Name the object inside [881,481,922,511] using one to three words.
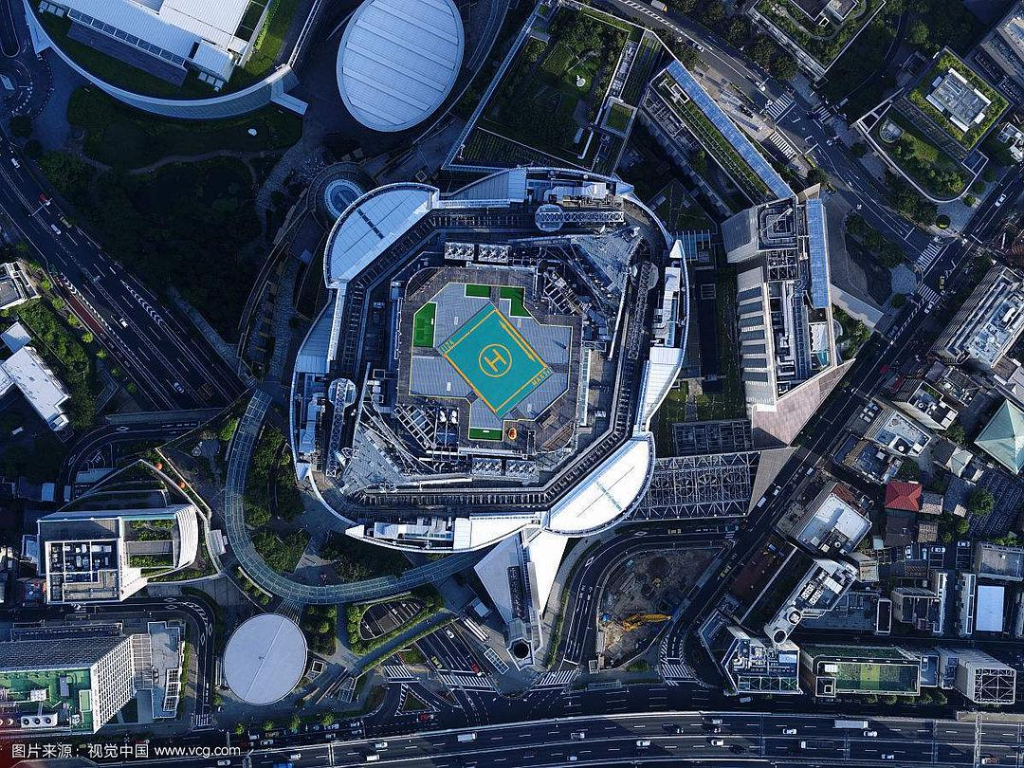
house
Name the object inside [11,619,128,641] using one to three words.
building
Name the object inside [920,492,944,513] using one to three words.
house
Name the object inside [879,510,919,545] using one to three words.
building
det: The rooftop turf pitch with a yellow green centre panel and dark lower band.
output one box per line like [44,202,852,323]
[837,666,901,691]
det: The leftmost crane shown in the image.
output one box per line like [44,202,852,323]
[324,377,360,476]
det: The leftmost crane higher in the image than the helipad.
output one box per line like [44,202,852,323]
[533,201,625,234]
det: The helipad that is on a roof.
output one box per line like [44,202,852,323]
[398,267,582,456]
